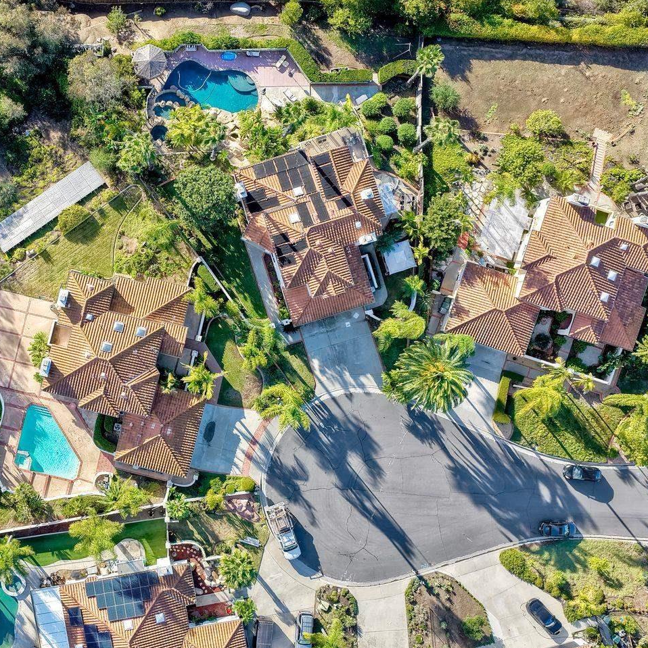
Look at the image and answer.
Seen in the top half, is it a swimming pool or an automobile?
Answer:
swimming pool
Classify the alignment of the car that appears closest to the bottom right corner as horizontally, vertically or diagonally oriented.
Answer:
diagonally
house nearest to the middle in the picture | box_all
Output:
[228,119,390,327]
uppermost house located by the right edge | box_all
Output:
[445,191,648,358]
